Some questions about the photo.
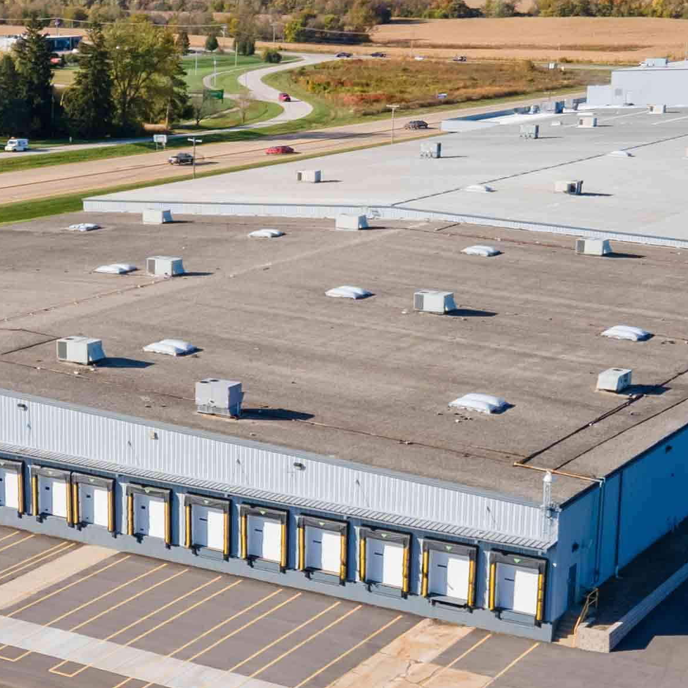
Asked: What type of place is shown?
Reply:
industrial area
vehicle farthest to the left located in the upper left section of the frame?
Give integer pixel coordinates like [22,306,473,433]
[6,136,28,151]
